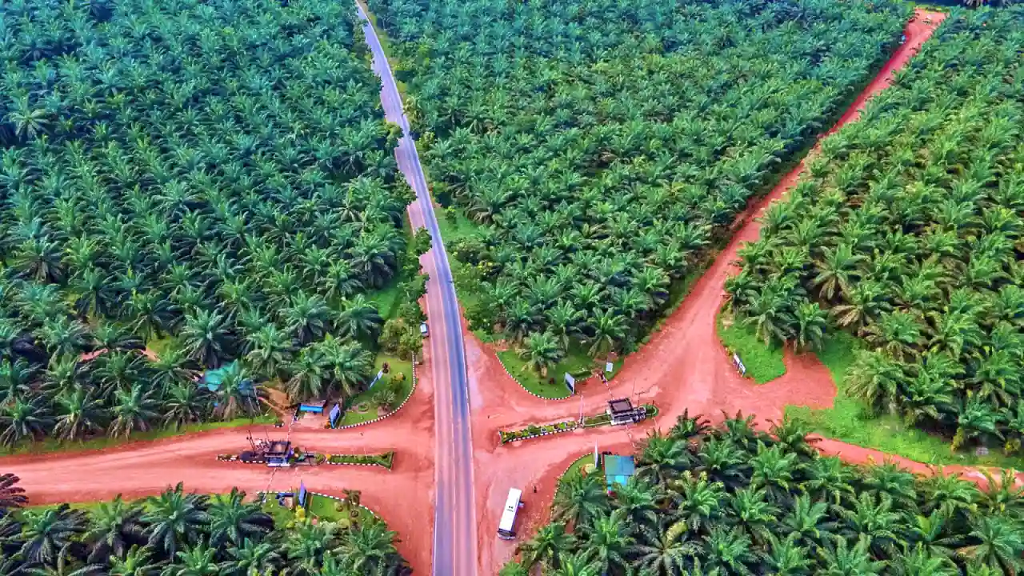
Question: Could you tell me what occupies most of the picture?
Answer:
trees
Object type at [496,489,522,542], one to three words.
vehicle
